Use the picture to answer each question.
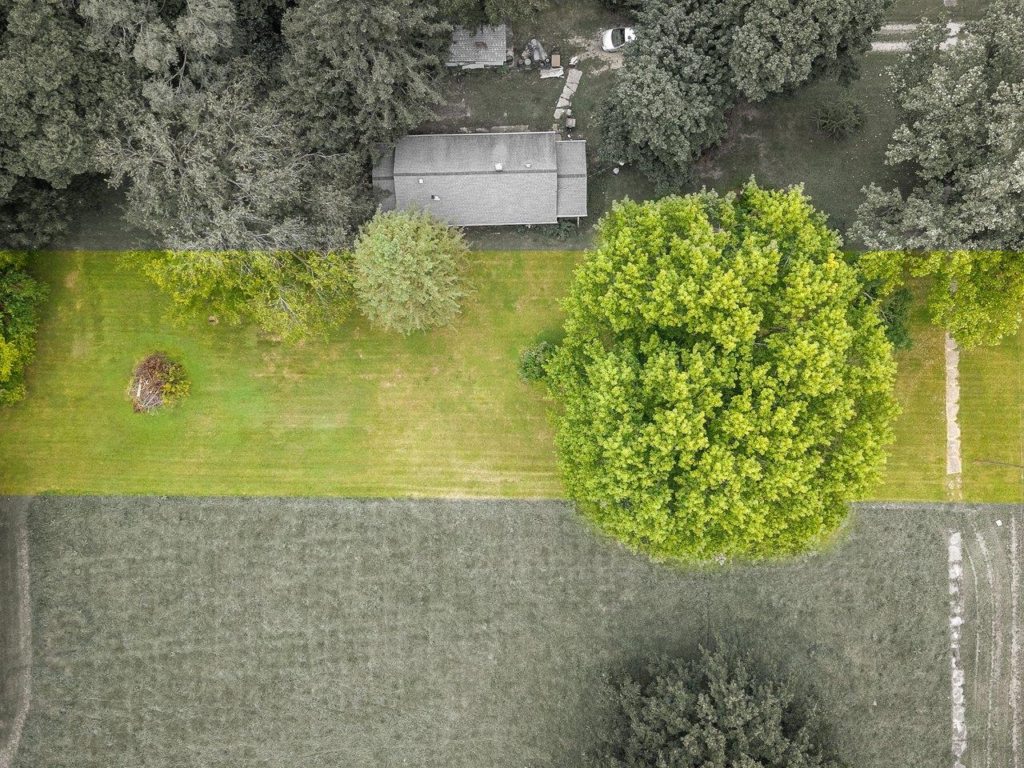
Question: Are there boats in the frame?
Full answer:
No, I find no boat anywhere in the image.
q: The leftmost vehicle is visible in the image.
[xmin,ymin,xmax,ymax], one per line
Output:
[532,40,548,63]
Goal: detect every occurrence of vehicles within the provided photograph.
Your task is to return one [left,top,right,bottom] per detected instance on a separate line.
[532,40,548,63]
[603,22,641,48]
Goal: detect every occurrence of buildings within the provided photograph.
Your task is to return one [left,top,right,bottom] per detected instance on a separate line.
[368,132,588,230]
[452,18,506,68]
